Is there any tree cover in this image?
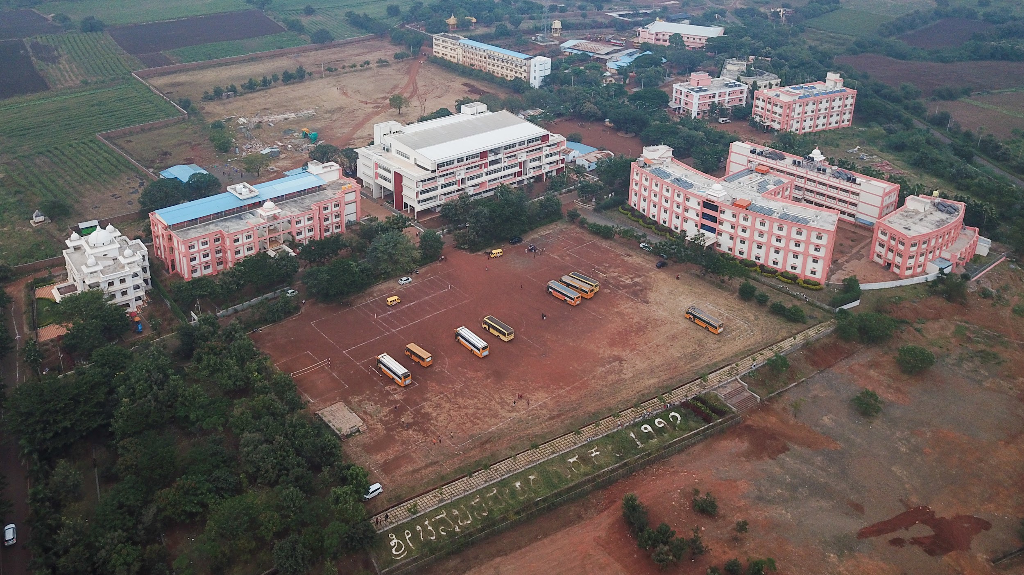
Yes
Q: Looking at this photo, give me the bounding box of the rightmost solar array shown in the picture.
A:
[936,200,960,215]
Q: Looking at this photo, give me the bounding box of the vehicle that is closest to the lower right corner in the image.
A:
[684,307,724,333]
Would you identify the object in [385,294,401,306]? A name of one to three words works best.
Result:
vehicle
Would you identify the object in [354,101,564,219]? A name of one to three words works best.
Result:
building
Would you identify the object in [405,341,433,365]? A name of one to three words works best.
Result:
bus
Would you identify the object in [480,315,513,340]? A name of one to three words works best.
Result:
bus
